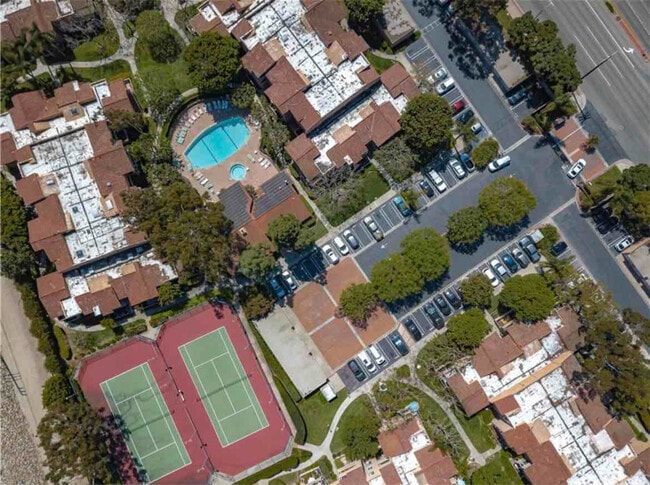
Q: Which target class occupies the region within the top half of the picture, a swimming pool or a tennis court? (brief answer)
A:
swimming pool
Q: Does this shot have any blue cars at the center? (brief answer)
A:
Yes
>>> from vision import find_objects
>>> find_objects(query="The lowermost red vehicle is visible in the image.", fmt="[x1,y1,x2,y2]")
[448,97,468,113]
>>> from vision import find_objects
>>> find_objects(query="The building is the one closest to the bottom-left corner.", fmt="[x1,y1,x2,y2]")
[36,255,177,321]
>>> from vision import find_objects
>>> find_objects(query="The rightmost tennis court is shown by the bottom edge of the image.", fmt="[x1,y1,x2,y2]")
[156,303,291,476]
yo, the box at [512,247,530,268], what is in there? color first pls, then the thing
gray car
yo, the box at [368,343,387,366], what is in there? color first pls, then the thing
white vehicle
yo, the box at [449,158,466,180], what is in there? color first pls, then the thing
white car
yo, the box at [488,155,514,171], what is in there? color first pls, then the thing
white vehicle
